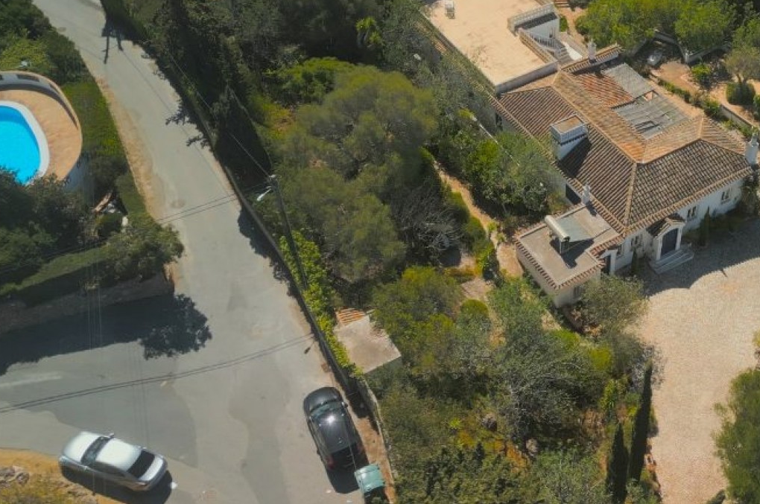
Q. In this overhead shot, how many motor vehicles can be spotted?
2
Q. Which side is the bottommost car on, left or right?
left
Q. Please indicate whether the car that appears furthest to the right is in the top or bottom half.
bottom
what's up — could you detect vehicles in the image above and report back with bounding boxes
[306,390,364,477]
[69,435,166,498]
